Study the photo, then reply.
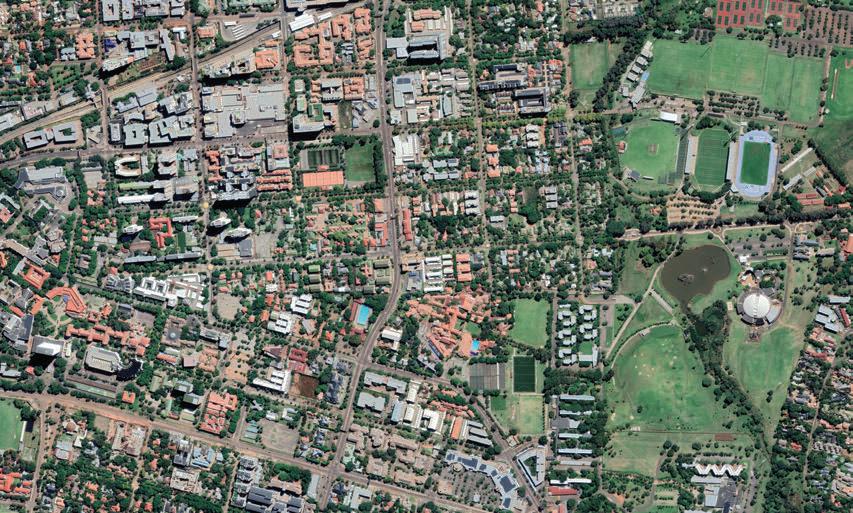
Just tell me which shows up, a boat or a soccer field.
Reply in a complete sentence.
Visible in the photo is a soccer field.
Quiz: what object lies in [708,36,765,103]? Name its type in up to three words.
soccer field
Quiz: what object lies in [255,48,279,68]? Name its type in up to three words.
building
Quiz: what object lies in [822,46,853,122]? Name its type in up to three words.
sports field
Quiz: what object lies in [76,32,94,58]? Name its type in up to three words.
building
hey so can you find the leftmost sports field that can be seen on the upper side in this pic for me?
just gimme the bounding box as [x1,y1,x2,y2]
[345,143,374,180]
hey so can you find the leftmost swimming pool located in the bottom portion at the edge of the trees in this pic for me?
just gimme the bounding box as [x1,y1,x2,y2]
[355,302,372,327]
